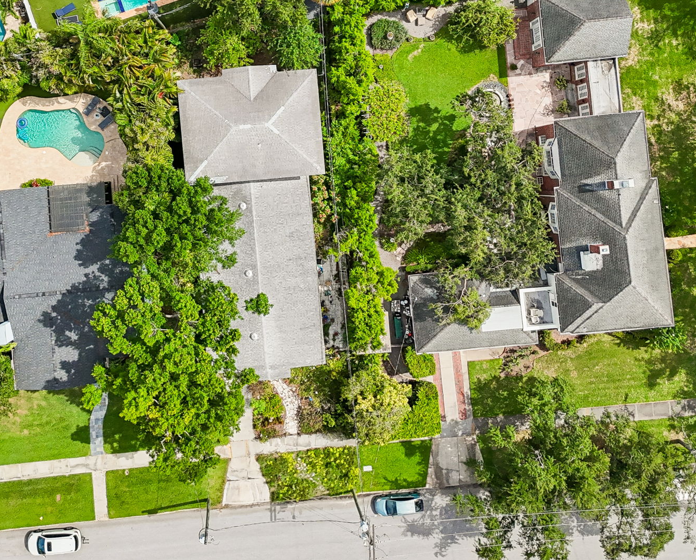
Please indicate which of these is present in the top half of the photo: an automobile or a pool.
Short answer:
pool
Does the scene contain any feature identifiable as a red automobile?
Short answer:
No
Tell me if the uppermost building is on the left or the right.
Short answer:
right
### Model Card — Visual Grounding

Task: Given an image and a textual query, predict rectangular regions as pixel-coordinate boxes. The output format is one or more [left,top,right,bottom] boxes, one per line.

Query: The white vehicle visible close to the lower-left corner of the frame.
[24,526,84,560]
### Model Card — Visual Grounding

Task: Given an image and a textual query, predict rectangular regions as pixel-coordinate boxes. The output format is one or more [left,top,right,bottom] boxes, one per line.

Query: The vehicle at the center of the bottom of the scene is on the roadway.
[373,490,423,520]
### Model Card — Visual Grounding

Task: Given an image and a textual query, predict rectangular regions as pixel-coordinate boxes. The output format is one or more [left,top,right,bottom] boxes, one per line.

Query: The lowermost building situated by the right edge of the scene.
[530,110,675,335]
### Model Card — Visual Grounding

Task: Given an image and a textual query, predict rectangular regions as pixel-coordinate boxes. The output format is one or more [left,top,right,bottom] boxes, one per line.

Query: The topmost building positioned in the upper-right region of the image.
[525,0,634,65]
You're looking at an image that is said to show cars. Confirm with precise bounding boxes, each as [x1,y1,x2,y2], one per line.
[373,490,423,520]
[24,526,84,560]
